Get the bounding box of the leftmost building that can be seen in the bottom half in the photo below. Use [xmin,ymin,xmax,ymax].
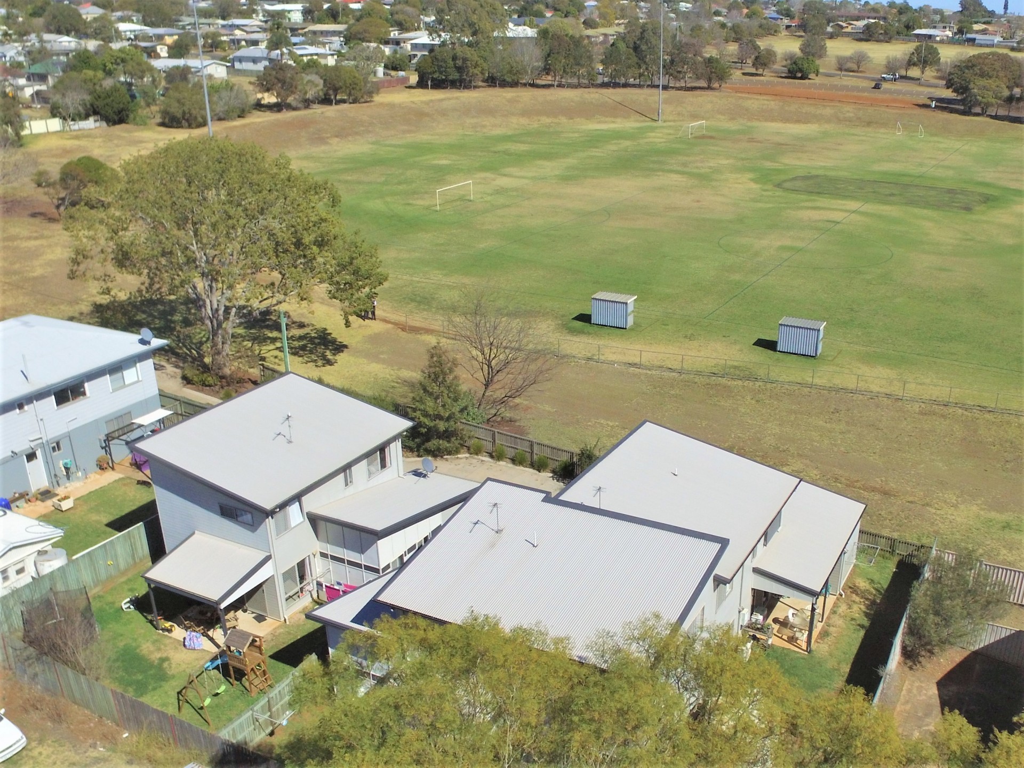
[0,515,56,602]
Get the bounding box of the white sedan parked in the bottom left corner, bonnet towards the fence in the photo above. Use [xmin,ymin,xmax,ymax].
[0,705,37,763]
